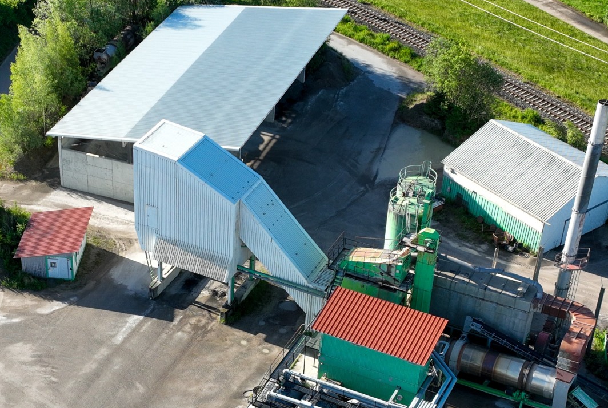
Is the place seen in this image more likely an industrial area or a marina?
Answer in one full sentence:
It's an industrial area.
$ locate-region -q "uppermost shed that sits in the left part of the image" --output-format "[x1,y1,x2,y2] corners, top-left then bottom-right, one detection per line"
[46,2,348,200]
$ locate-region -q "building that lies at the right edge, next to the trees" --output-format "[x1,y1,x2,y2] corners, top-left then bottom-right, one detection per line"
[438,122,608,260]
